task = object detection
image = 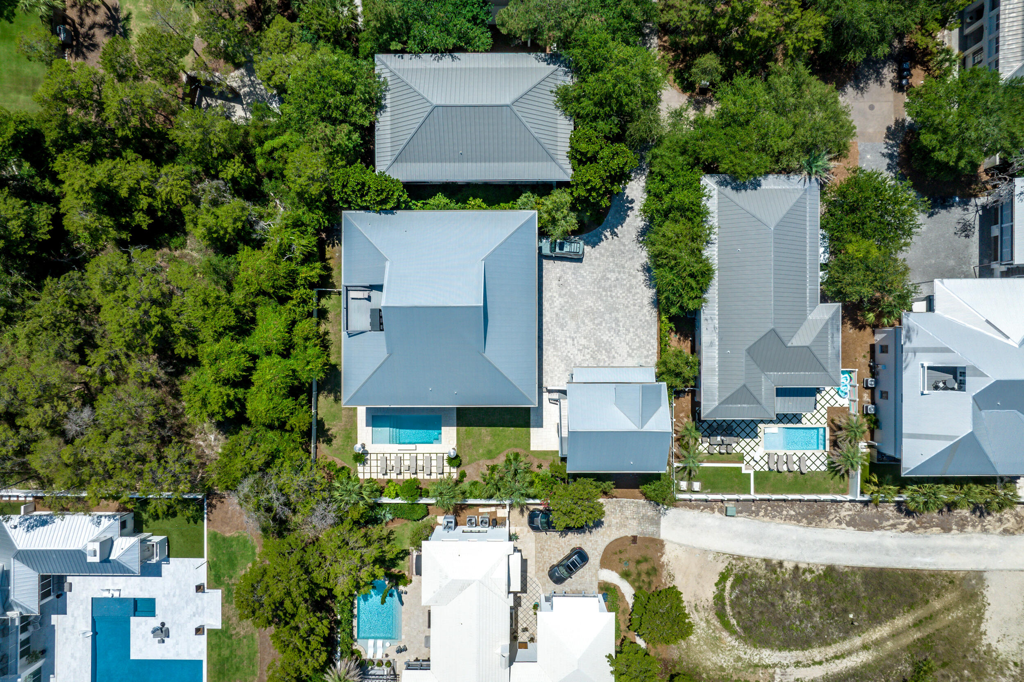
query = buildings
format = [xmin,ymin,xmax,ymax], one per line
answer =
[341,210,538,408]
[973,177,1024,278]
[511,591,616,682]
[402,524,521,682]
[958,0,1024,96]
[689,173,842,420]
[374,52,573,191]
[873,278,1024,477]
[544,365,673,474]
[0,513,167,682]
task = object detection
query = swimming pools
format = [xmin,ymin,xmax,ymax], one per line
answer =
[357,576,402,654]
[764,428,826,450]
[372,415,442,444]
[92,598,202,682]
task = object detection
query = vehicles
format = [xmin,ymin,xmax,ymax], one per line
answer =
[547,549,592,586]
[531,512,578,535]
[539,237,584,258]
